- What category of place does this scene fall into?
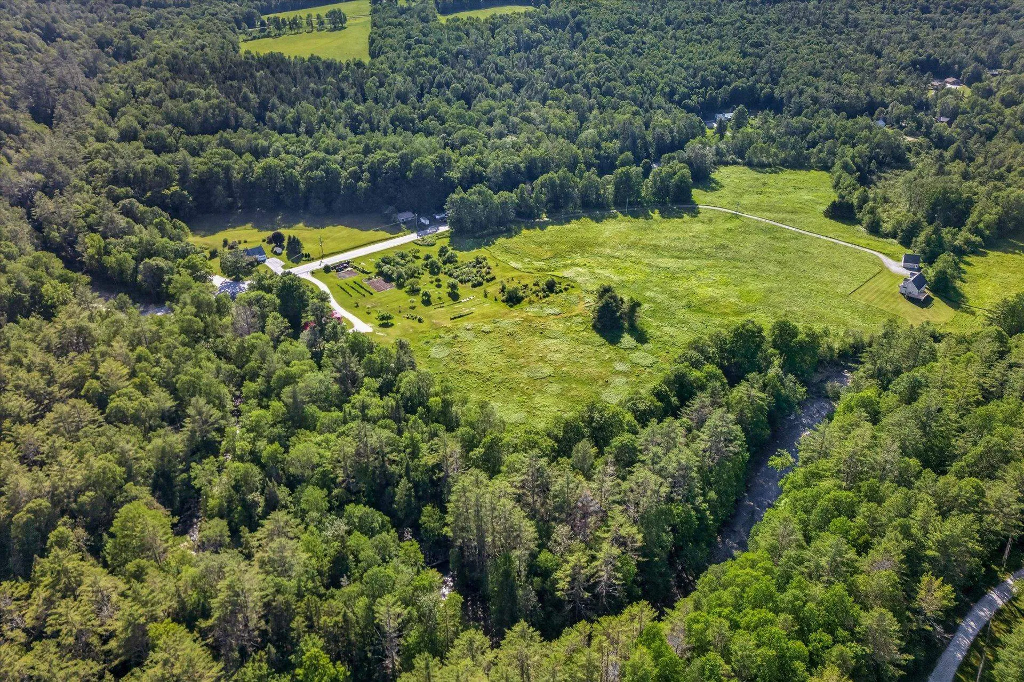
forest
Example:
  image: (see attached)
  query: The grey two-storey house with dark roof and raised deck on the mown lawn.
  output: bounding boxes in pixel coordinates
[894,270,932,308]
